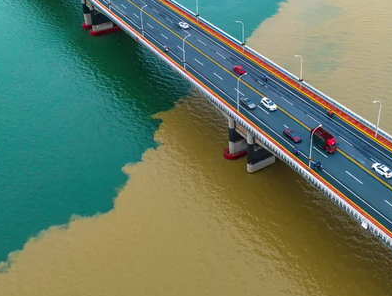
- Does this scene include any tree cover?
No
